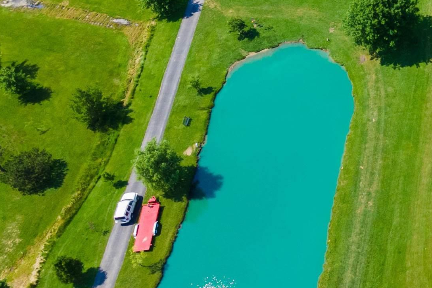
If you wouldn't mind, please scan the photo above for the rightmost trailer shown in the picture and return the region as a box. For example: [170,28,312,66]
[132,199,161,255]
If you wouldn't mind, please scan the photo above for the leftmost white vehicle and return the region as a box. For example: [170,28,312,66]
[111,188,140,232]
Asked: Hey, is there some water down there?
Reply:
Yes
